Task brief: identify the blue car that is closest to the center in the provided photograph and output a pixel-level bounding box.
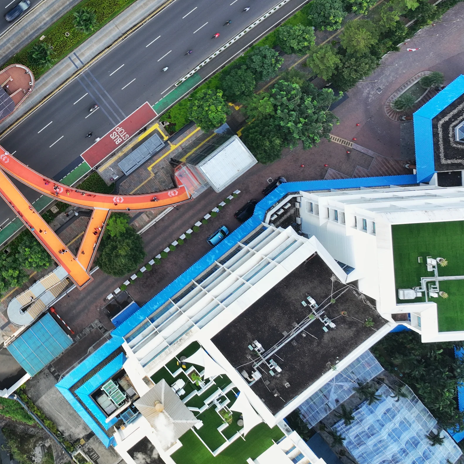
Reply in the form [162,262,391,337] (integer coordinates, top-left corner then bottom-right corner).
[206,225,229,247]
